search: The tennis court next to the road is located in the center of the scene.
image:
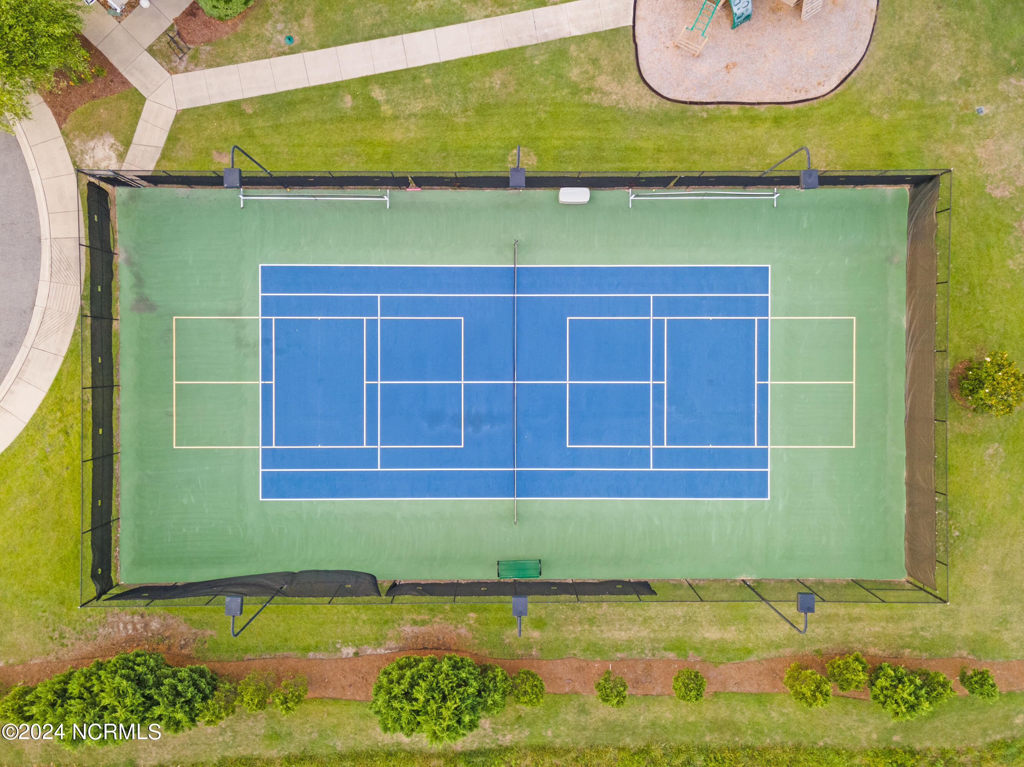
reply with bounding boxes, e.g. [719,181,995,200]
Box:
[116,187,907,585]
